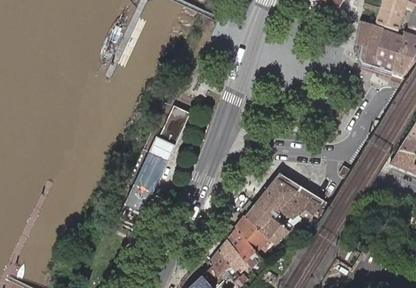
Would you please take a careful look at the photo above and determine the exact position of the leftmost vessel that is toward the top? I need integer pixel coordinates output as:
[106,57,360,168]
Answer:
[98,6,128,64]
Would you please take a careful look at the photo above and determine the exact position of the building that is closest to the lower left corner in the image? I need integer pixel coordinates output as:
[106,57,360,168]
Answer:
[126,182,154,206]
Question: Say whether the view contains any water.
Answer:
Yes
